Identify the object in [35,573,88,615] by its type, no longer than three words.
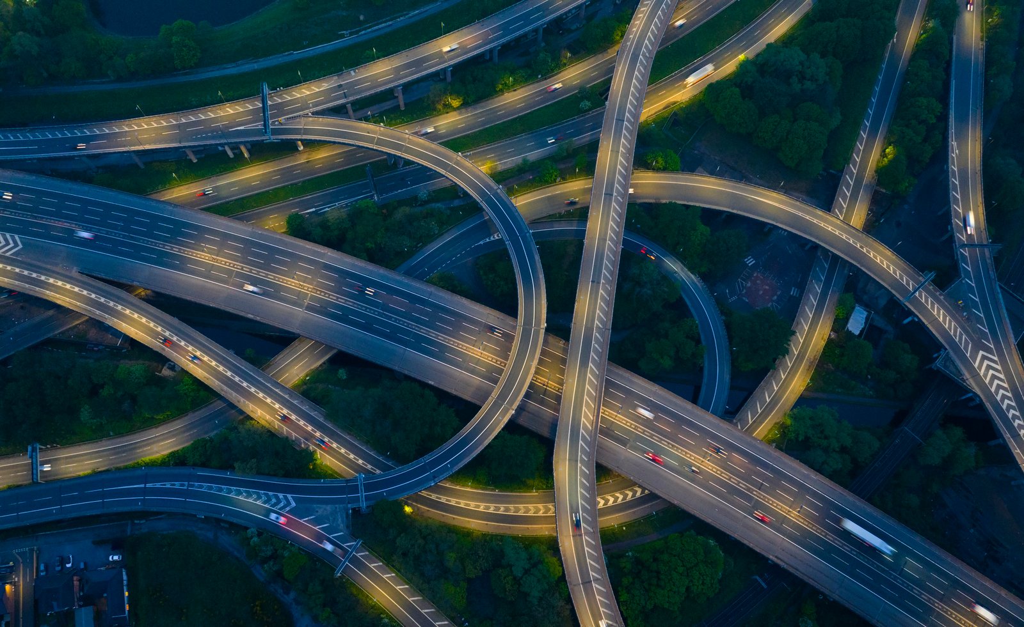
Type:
building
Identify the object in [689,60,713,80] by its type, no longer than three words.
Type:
vehicle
